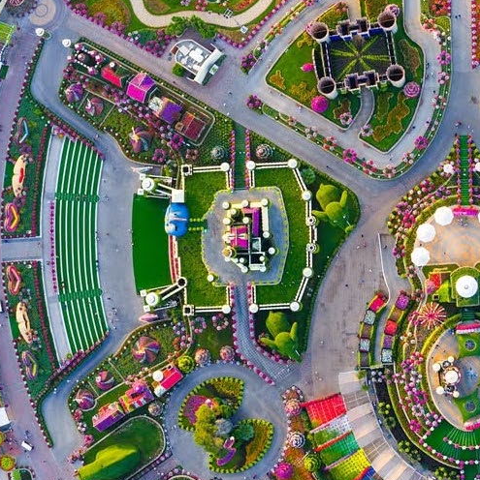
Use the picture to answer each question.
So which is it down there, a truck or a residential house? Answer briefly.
residential house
